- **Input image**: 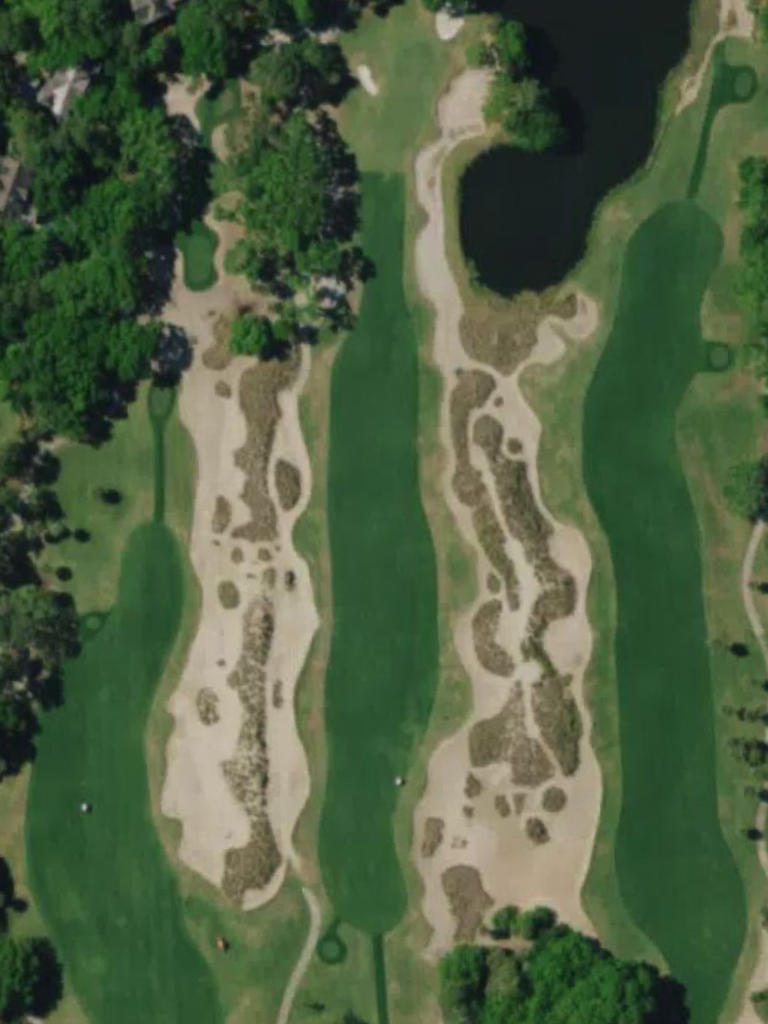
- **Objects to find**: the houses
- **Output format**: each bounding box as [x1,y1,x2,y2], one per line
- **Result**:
[32,67,93,117]
[0,159,37,216]
[127,0,189,25]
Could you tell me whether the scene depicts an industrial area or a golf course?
golf course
